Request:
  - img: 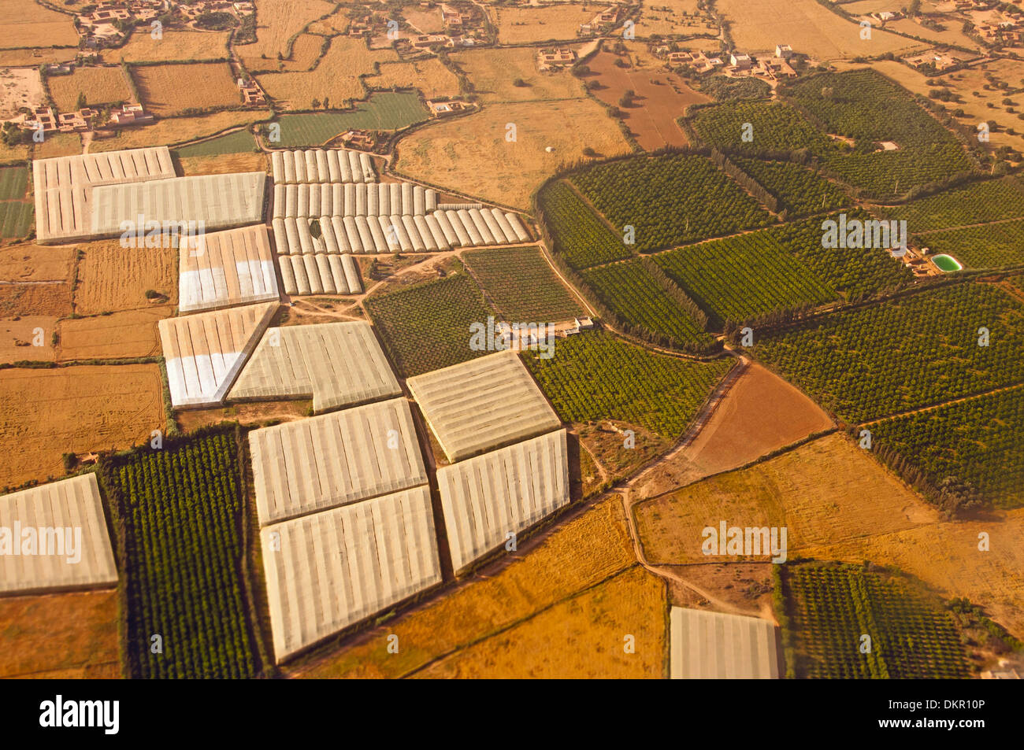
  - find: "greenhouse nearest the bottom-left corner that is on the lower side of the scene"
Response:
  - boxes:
[0,473,120,601]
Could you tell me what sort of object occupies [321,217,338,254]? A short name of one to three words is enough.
greenhouse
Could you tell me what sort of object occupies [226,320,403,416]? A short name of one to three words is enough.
greenhouse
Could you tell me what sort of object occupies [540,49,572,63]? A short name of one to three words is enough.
house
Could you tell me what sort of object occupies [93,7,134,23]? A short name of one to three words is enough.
house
